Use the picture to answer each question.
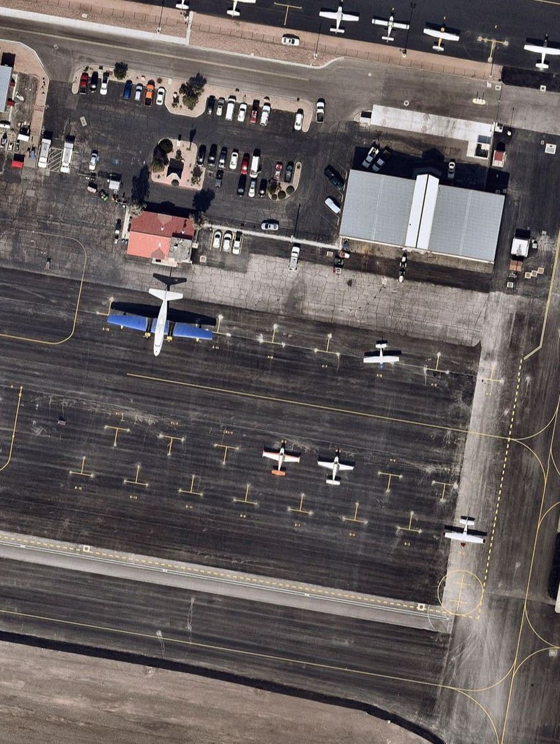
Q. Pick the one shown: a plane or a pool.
plane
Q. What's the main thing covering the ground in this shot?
paved ground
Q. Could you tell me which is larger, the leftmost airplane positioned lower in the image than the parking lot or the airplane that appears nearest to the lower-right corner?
the leftmost airplane positioned lower in the image than the parking lot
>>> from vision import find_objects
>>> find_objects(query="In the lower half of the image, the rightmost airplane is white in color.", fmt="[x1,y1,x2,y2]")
[446,522,487,547]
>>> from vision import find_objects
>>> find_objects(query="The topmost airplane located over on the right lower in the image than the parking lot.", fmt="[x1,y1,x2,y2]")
[363,343,400,369]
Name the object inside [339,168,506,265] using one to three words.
hangar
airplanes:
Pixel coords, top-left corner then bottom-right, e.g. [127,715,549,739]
[319,5,359,37]
[262,446,300,474]
[108,283,213,360]
[372,12,410,43]
[424,25,460,50]
[363,343,400,369]
[227,0,256,15]
[446,522,487,547]
[525,39,560,68]
[318,456,355,484]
